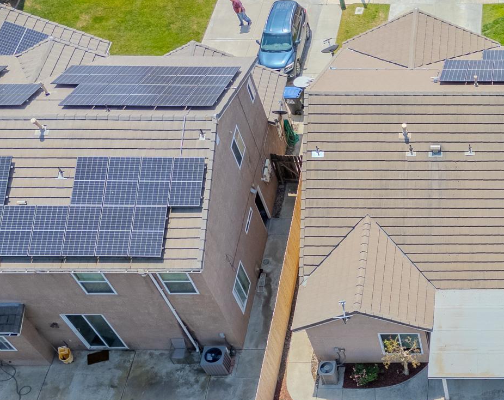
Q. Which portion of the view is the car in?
top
